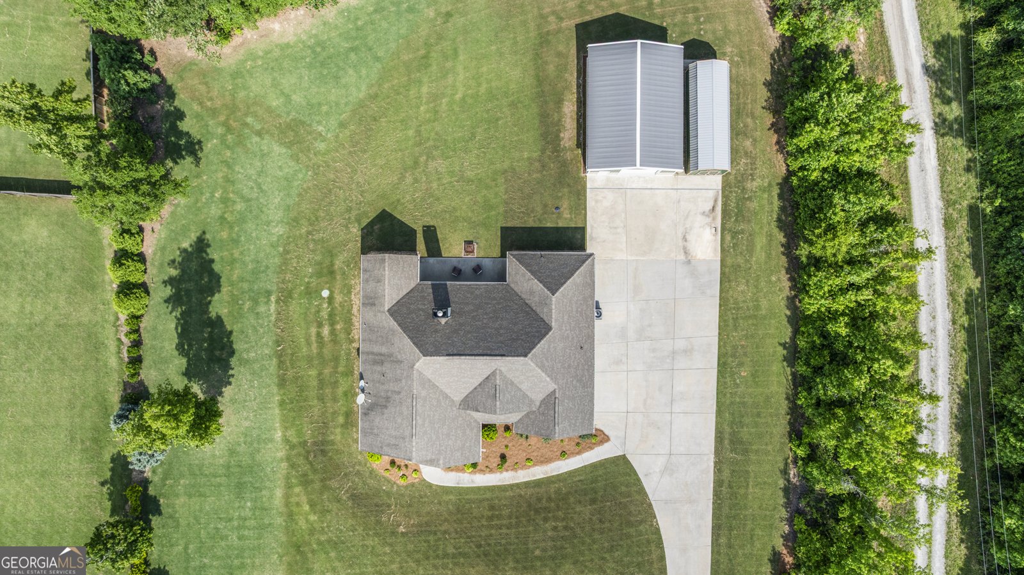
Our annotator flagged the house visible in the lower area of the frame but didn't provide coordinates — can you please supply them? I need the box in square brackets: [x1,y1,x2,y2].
[360,251,595,466]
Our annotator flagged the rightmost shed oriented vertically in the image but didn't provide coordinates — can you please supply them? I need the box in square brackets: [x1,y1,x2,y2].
[685,59,730,174]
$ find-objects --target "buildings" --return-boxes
[585,38,684,174]
[360,251,595,466]
[685,59,730,174]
